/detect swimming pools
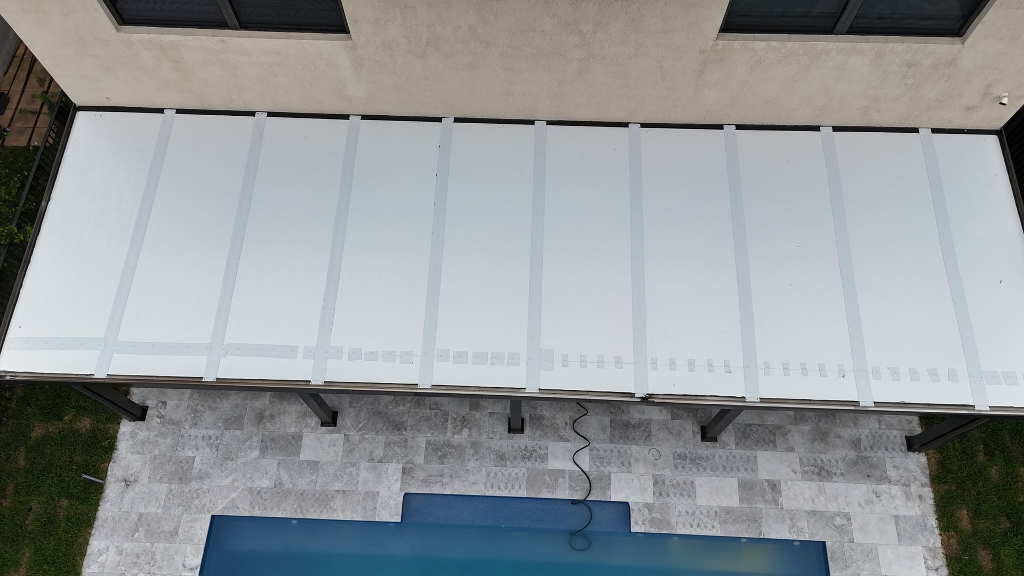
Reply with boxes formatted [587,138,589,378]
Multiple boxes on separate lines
[201,493,829,576]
